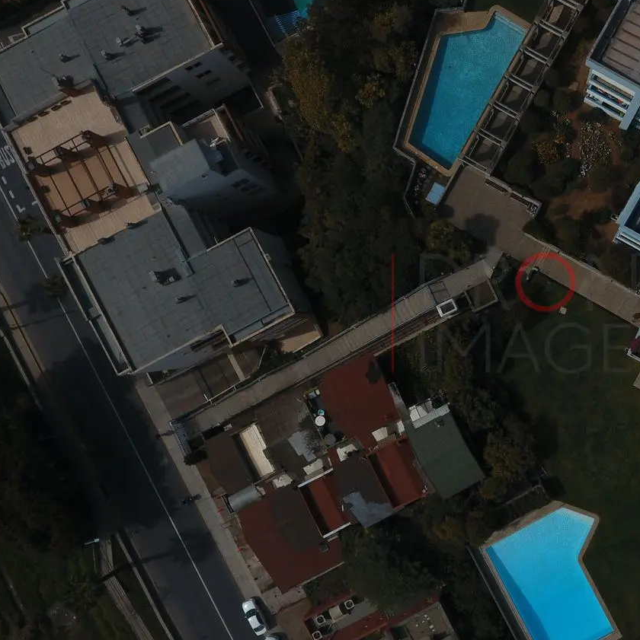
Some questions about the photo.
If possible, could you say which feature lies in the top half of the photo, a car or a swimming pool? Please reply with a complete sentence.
Visible in the top half of the photo is a swimming pool.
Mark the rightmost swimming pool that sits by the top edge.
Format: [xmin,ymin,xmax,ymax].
[397,5,533,176]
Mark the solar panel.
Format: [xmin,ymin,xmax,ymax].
[425,182,446,205]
